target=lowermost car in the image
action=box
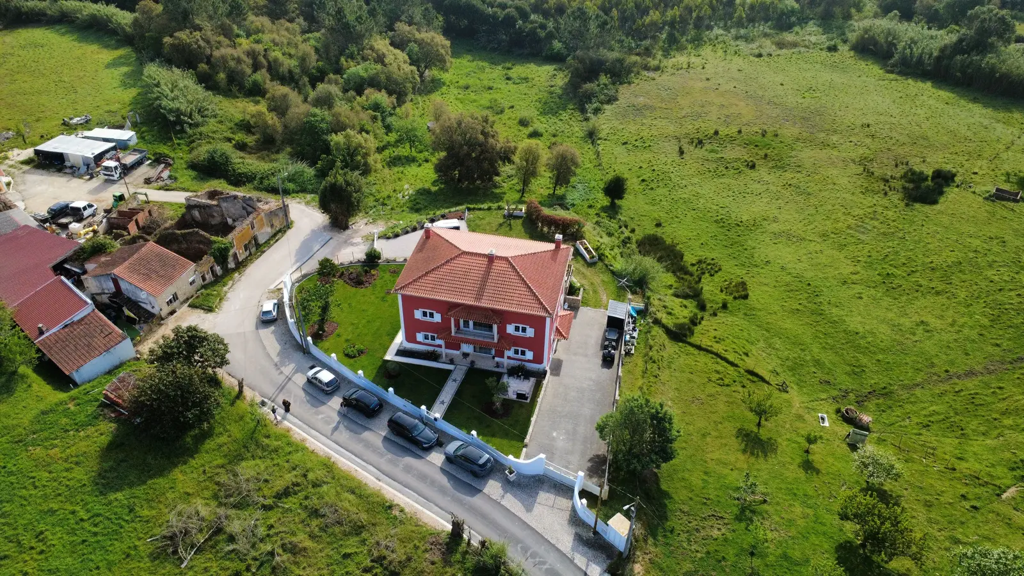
[440,441,498,482]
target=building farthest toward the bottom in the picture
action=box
[607,511,630,550]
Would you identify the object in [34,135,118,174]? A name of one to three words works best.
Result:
shed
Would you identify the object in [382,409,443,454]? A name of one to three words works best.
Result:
car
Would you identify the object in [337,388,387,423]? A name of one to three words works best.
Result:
car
